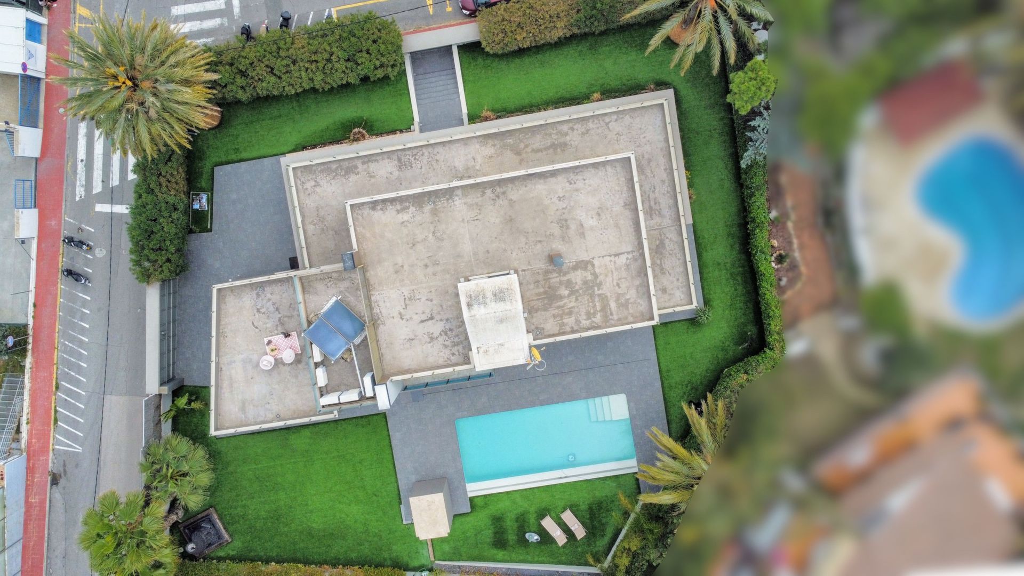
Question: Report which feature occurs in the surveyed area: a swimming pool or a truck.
swimming pool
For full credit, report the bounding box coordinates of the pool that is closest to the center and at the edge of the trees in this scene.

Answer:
[456,394,639,497]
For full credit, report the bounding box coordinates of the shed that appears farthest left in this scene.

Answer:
[0,8,45,82]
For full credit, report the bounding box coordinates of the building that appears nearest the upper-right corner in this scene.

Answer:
[875,59,982,151]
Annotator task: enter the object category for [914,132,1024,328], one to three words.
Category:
swimming pool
